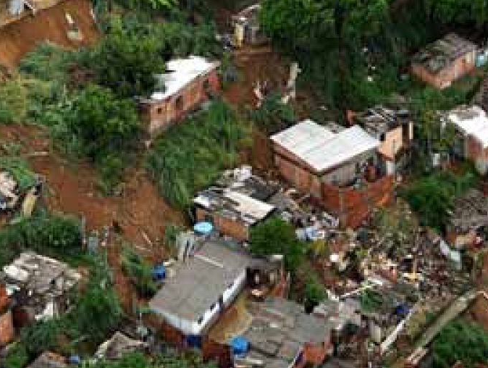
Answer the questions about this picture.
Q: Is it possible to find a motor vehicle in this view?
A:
No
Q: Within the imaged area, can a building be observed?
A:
Yes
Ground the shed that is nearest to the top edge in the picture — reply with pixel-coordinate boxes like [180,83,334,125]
[224,7,268,49]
